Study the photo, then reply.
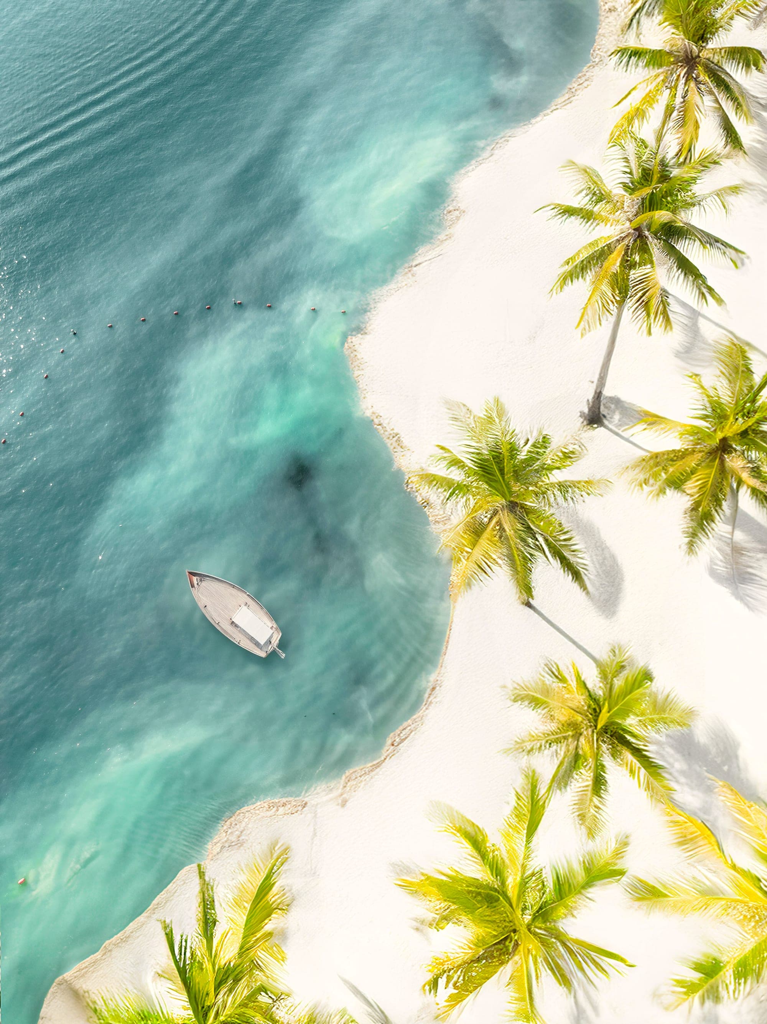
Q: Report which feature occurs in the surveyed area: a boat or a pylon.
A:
boat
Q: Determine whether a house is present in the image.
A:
No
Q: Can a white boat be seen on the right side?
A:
No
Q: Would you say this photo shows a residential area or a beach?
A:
beach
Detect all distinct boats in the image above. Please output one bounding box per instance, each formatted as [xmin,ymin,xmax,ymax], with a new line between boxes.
[186,571,290,661]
